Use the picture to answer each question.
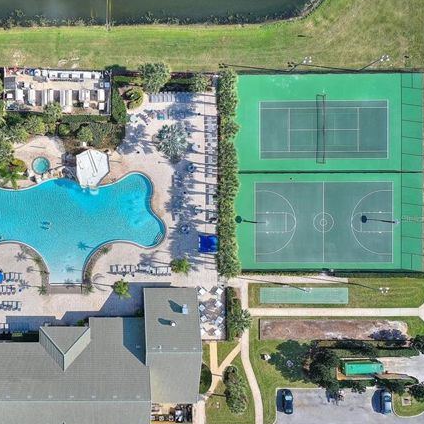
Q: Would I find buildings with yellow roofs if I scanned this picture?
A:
No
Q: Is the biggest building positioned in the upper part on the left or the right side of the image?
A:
left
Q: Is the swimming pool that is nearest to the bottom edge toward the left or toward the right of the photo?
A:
left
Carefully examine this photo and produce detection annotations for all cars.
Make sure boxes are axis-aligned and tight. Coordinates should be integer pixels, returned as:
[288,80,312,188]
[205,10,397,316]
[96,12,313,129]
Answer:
[282,388,295,414]
[379,390,393,414]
